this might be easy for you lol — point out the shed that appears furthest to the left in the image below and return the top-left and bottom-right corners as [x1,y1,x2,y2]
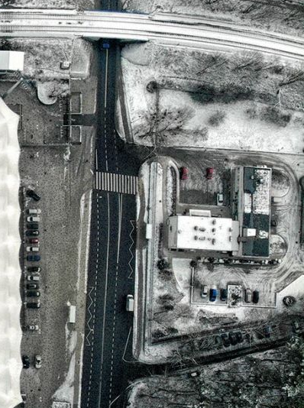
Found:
[0,49,24,73]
